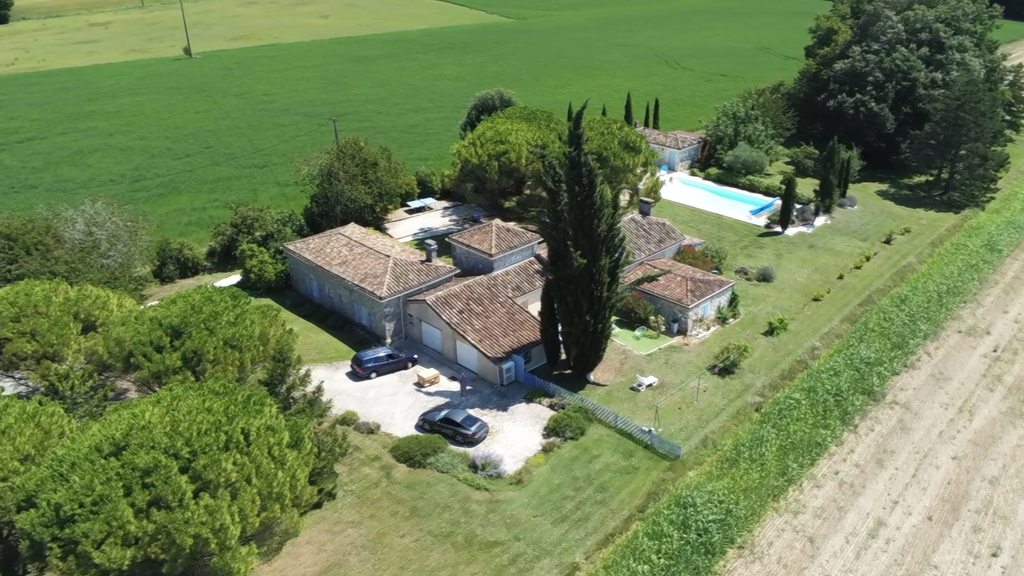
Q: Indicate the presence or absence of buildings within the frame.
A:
Yes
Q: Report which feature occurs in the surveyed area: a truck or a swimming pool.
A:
swimming pool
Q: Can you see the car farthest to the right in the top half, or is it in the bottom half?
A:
bottom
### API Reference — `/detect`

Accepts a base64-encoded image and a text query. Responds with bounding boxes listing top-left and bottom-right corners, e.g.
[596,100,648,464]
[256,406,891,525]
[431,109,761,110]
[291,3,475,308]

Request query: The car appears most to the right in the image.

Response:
[417,406,486,445]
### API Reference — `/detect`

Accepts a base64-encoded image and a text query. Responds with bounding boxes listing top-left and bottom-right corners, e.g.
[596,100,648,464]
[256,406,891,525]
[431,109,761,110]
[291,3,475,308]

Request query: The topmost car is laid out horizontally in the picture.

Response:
[354,345,421,378]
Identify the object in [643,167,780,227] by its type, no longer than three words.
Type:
swimming pool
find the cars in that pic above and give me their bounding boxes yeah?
[417,406,486,445]
[354,345,421,378]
